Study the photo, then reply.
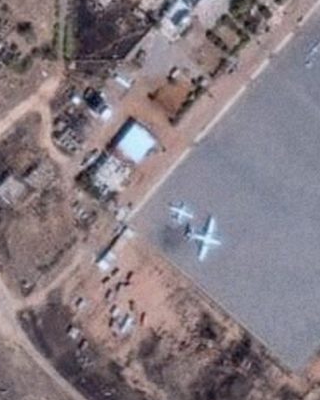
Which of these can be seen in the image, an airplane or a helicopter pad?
airplane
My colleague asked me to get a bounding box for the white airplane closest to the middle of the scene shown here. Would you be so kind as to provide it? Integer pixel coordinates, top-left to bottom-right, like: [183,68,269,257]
[170,202,192,223]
